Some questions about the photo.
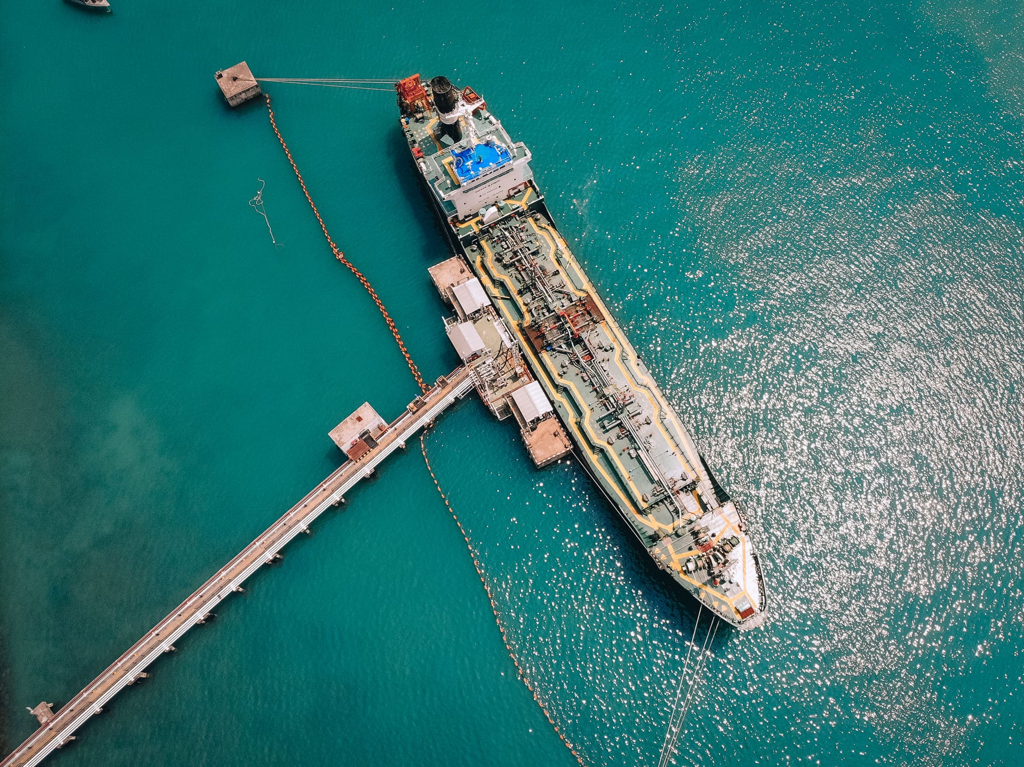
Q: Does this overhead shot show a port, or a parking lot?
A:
port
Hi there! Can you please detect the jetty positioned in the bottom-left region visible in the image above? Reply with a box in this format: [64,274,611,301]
[0,358,495,767]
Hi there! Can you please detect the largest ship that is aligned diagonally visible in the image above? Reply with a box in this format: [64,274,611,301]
[394,66,769,639]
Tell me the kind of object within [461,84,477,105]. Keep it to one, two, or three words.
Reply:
boat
